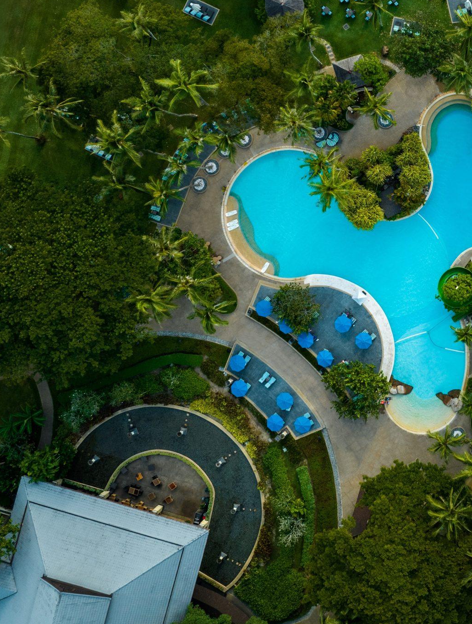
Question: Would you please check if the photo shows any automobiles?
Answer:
No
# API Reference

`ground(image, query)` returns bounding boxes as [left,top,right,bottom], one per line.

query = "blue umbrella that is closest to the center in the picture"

[257,299,274,317]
